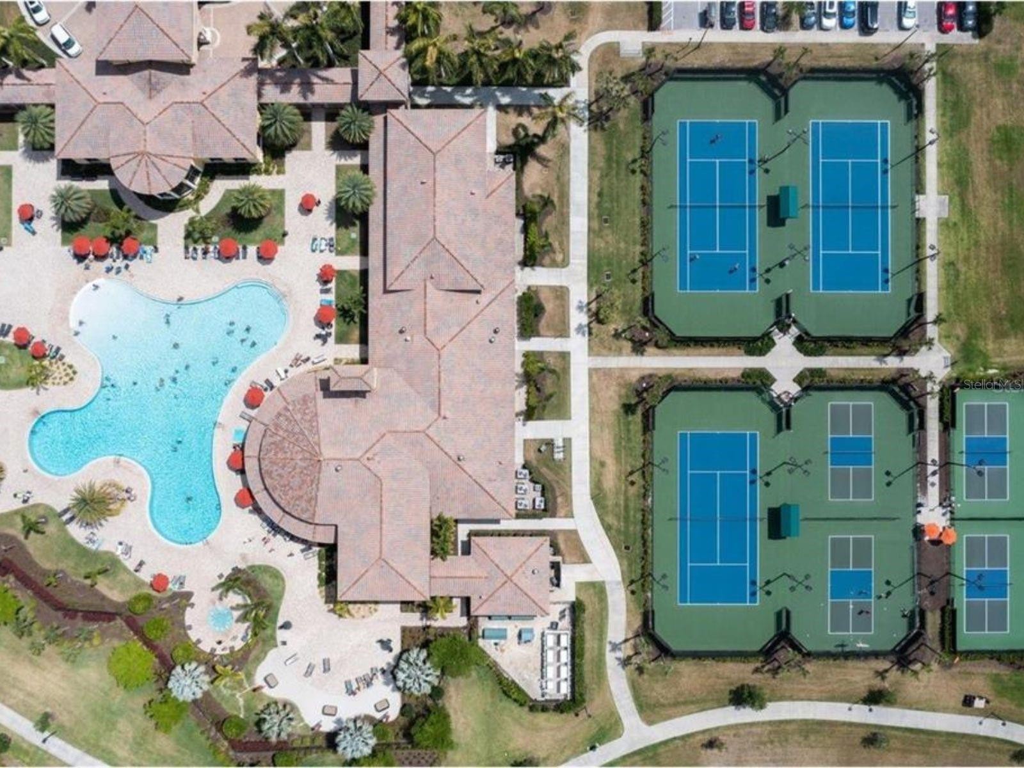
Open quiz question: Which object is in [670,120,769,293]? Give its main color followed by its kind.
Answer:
blue tennis court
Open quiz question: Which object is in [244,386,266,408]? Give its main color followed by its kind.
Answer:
red umbrella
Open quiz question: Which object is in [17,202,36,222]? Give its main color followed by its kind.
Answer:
red umbrella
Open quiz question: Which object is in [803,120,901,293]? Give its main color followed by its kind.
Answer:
blue tennis court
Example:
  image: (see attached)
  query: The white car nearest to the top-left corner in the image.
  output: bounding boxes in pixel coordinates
[24,0,51,29]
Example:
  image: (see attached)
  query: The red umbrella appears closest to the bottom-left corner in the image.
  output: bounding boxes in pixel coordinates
[151,573,171,592]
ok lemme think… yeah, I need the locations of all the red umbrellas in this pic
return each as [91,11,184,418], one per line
[71,235,92,255]
[258,238,279,259]
[319,264,337,282]
[316,304,335,324]
[298,192,318,213]
[244,386,266,408]
[92,237,111,256]
[31,339,51,359]
[11,327,31,347]
[226,448,244,469]
[121,236,140,255]
[17,202,36,222]
[235,488,255,508]
[220,236,241,257]
[151,573,171,592]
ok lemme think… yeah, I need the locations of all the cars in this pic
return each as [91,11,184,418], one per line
[958,0,974,31]
[821,0,838,30]
[720,0,736,31]
[703,0,719,26]
[740,0,756,30]
[761,0,777,33]
[840,0,857,29]
[24,0,51,29]
[860,0,879,34]
[938,0,956,33]
[802,0,818,29]
[899,0,916,30]
[52,23,83,58]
